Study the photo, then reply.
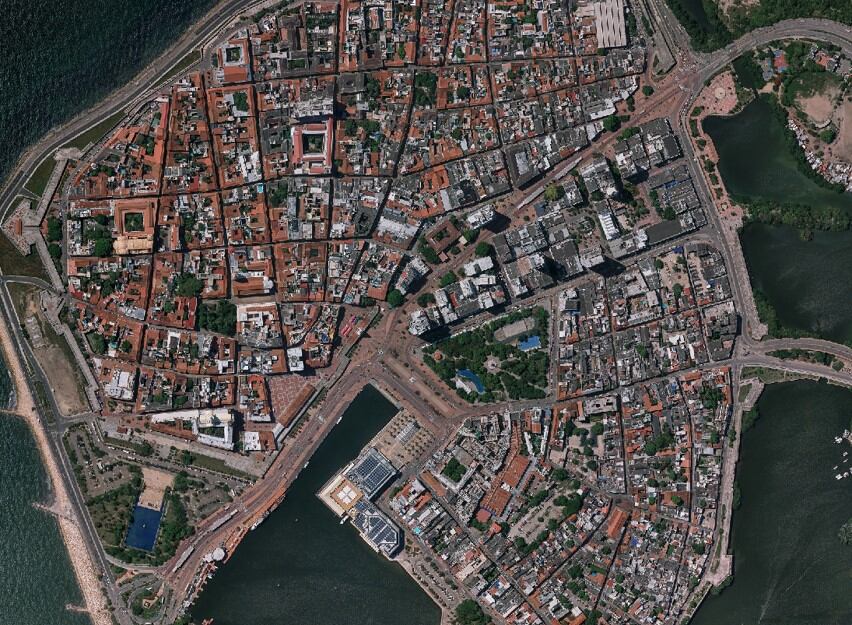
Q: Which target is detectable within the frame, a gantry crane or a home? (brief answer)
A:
home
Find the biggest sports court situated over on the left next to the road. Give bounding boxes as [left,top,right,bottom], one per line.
[138,470,172,510]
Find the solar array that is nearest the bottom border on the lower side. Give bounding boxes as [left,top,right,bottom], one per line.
[355,507,395,543]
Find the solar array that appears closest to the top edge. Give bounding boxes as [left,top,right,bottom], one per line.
[355,456,391,489]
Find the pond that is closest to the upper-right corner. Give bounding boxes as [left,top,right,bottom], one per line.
[685,0,852,393]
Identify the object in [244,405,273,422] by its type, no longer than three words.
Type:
house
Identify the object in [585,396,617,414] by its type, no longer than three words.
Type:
building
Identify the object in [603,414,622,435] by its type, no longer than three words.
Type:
house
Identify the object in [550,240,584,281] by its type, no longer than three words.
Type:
building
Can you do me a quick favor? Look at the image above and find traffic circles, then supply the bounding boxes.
[132,583,162,620]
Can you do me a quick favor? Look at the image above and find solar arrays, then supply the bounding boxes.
[355,507,395,543]
[355,456,391,489]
